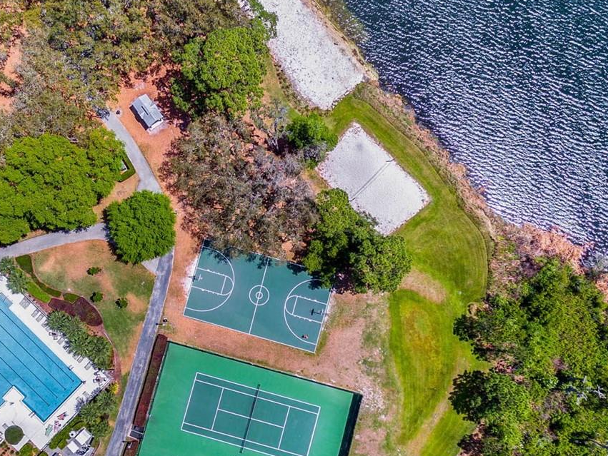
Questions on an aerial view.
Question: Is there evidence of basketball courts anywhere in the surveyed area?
Yes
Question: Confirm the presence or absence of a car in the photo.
No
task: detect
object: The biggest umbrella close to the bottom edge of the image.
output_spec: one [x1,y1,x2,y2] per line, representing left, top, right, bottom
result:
[6,425,25,444]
